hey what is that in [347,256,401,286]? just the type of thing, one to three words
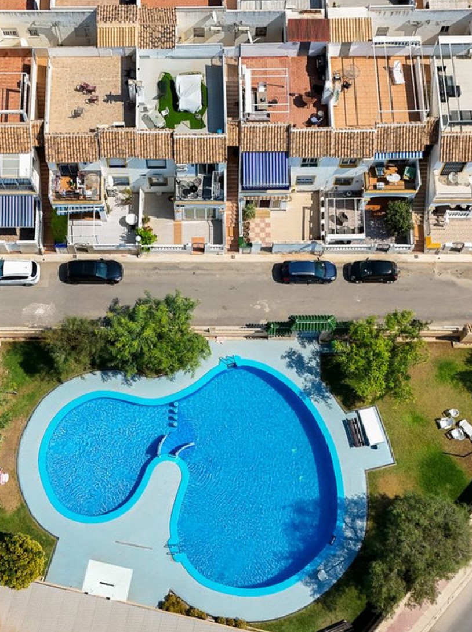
car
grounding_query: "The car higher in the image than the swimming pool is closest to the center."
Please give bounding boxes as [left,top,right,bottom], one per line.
[280,257,336,286]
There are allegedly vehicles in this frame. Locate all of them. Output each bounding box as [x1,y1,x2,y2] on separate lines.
[347,256,401,286]
[0,257,40,287]
[67,256,123,286]
[280,257,336,286]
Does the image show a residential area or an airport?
residential area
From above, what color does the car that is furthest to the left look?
white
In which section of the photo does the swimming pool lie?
bottom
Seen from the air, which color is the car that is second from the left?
black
